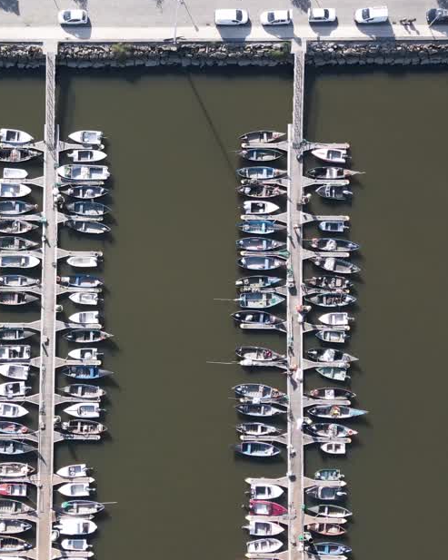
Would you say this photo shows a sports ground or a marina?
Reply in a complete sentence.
This looks like a marina.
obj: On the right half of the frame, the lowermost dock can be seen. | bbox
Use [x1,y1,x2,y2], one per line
[239,125,350,560]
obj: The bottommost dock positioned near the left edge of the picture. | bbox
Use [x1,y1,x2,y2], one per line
[0,125,104,560]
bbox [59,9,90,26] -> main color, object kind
white car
